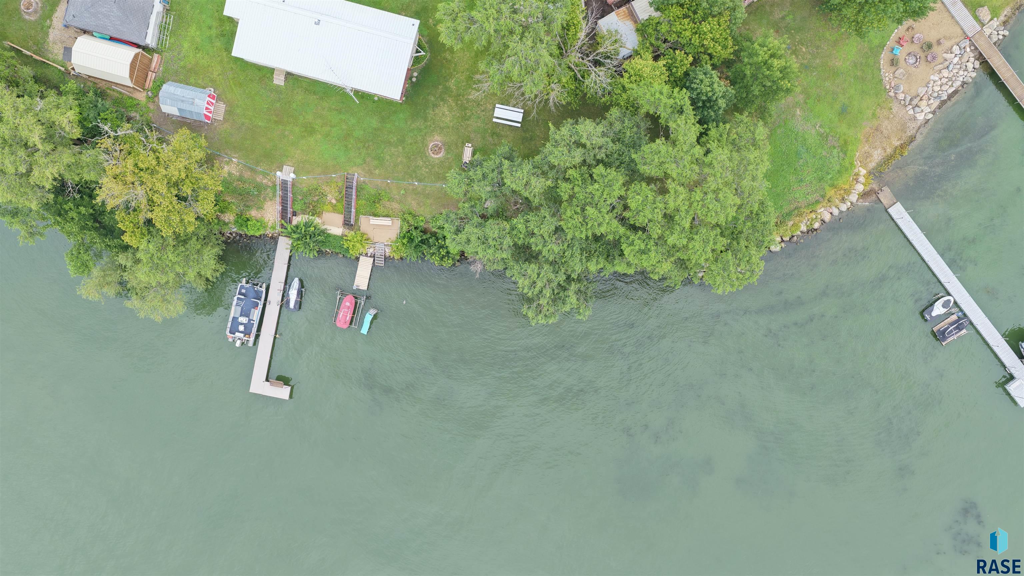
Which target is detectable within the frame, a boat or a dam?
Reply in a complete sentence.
This aerial view contains a boat.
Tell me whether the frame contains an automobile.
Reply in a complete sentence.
No, I can see no automobile in this picture.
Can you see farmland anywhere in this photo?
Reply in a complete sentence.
No, there's no farmland in this view.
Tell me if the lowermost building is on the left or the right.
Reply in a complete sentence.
You can find the lowermost building on the left side of the picture.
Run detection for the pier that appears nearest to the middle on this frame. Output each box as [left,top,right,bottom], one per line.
[355,256,374,290]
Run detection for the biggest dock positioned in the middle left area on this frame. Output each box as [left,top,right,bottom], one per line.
[249,236,293,400]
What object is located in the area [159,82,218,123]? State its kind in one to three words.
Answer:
building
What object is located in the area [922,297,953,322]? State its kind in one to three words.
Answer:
vessel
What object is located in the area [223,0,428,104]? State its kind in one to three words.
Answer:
house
